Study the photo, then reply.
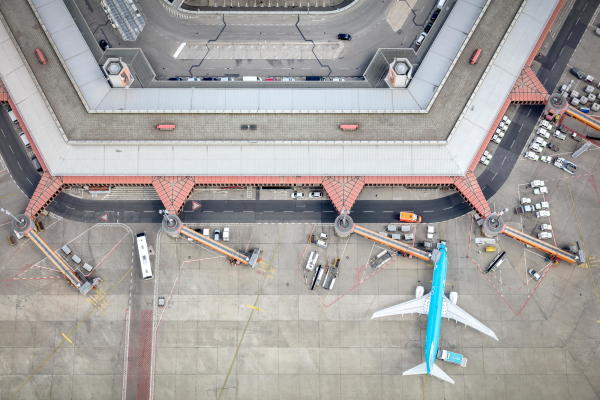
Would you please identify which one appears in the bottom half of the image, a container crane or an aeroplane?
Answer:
aeroplane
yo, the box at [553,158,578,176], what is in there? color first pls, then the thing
white work vehicle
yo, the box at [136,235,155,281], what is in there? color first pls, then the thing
white vehicle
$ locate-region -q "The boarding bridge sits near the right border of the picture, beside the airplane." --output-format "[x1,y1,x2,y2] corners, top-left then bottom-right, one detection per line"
[479,213,585,266]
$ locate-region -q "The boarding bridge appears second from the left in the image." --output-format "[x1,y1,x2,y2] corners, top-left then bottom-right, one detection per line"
[162,213,261,269]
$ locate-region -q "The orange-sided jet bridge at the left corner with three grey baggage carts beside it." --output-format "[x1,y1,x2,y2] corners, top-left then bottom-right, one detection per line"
[12,214,96,296]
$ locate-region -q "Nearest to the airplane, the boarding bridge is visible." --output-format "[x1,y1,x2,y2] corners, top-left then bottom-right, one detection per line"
[334,214,441,264]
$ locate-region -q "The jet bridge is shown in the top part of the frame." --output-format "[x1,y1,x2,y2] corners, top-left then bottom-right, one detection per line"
[541,92,600,133]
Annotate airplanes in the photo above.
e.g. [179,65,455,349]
[371,242,499,384]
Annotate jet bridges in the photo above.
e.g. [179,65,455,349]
[334,214,441,264]
[162,213,261,269]
[12,214,96,296]
[479,213,585,266]
[541,92,600,133]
